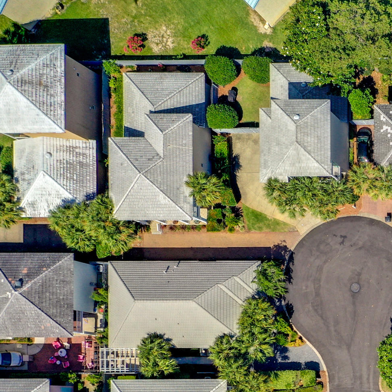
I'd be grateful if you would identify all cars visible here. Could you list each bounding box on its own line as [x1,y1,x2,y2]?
[354,126,373,165]
[0,349,26,368]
